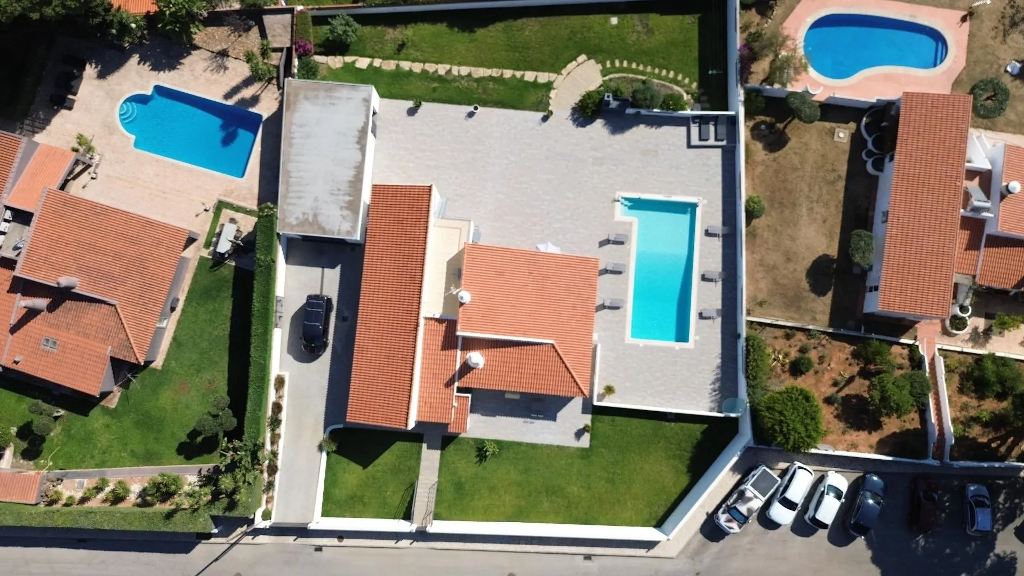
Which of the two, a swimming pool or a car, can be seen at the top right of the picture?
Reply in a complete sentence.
You can see a swimming pool at the top right of the picture.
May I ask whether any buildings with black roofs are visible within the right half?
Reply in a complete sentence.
No, no building with a black roof appears within the right half.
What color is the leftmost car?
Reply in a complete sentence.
The leftmost car looks black in the image.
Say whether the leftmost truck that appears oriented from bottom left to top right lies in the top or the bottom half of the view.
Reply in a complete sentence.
The leftmost truck that appears oriented from bottom left to top right sits in the bottom half of the picture.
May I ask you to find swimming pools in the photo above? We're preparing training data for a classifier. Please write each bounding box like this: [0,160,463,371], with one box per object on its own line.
[615,190,706,348]
[117,83,264,179]
[795,5,957,88]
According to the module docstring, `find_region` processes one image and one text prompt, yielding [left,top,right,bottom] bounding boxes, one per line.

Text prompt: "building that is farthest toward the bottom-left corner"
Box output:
[0,465,63,504]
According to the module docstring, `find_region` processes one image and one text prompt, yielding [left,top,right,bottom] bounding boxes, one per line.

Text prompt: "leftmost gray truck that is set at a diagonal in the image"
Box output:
[718,460,780,535]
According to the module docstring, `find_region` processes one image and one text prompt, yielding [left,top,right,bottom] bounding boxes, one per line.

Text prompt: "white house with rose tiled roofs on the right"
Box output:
[858,92,1024,323]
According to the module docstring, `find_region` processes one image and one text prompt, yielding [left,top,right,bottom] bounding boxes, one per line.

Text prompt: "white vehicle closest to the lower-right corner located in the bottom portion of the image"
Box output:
[809,470,845,528]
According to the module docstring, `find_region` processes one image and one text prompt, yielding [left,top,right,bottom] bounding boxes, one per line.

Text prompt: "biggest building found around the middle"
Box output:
[345,183,601,434]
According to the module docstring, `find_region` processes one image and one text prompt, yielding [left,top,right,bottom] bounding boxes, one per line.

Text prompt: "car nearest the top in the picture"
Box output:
[299,294,335,356]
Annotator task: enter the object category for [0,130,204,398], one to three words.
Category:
house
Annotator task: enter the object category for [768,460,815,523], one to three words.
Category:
car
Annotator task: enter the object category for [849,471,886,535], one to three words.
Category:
car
